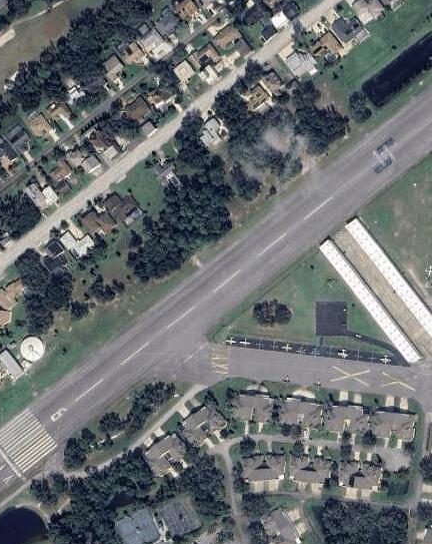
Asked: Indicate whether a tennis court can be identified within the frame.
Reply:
Yes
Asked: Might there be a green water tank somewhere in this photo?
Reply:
No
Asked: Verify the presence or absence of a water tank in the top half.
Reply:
No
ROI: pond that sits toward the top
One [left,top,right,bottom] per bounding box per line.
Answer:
[363,32,432,108]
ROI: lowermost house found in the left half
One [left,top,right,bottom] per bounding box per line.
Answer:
[146,437,190,478]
